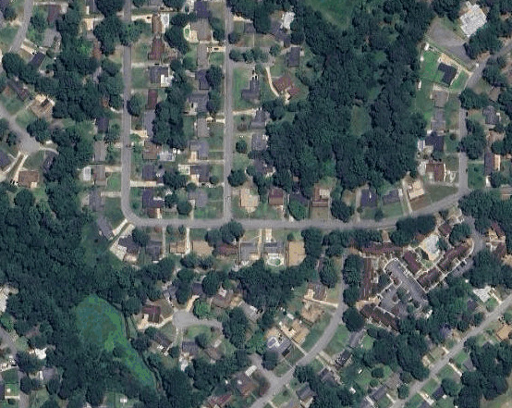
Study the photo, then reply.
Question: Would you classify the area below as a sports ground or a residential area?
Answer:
residential area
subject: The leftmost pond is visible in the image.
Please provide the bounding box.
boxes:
[77,295,155,388]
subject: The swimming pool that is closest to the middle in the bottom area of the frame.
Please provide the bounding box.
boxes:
[267,254,284,267]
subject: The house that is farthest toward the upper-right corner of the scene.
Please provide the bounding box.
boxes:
[459,5,490,34]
